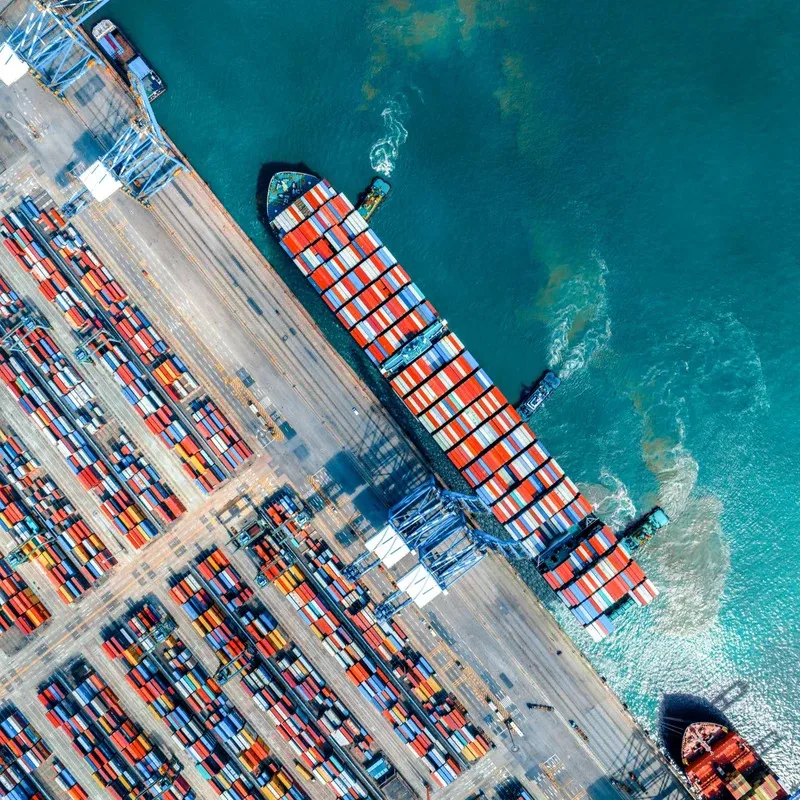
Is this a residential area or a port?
port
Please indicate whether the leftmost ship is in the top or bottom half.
top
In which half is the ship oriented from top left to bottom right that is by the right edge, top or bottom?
bottom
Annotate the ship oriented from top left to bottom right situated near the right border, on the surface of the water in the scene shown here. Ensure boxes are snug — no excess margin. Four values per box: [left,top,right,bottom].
[623,710,792,800]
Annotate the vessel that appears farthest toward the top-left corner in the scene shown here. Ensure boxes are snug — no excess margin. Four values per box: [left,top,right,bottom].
[95,20,169,102]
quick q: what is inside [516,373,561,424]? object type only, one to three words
boat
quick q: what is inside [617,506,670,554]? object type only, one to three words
boat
